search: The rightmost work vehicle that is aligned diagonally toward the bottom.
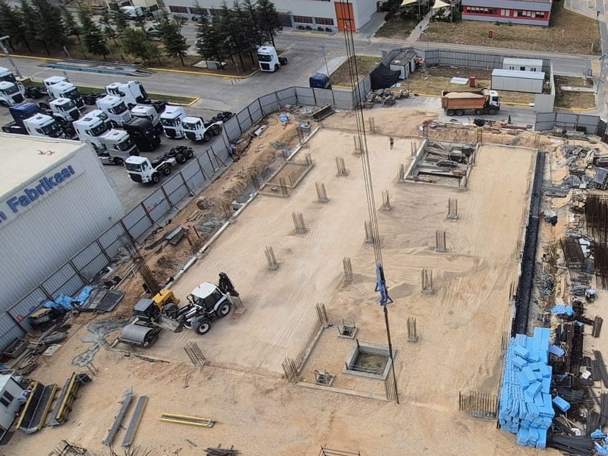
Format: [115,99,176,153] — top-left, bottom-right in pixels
[157,269,244,355]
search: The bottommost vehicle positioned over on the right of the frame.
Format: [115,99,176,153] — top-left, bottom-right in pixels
[438,92,502,120]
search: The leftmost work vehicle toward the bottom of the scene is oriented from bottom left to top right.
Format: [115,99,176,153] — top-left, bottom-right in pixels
[105,289,188,355]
